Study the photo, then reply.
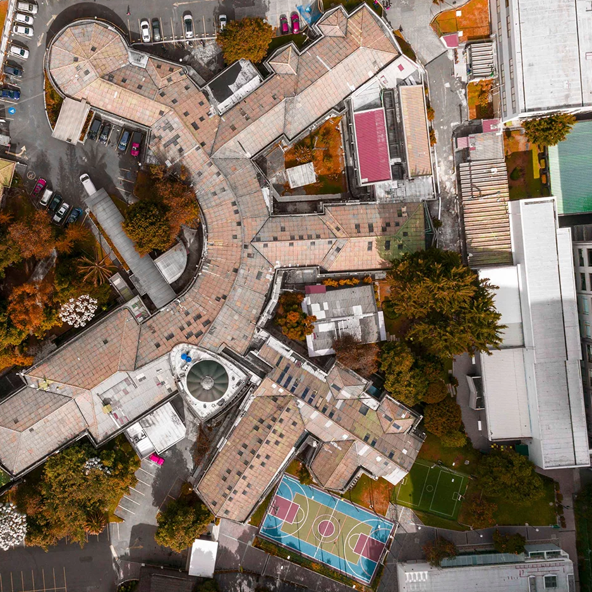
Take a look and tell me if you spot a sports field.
Yes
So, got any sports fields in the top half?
No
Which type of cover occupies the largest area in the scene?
buildings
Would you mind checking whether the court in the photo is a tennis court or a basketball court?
basketball court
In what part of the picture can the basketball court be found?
bottom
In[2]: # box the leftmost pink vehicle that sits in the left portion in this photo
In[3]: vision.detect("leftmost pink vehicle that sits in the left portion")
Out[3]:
[32,176,47,197]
